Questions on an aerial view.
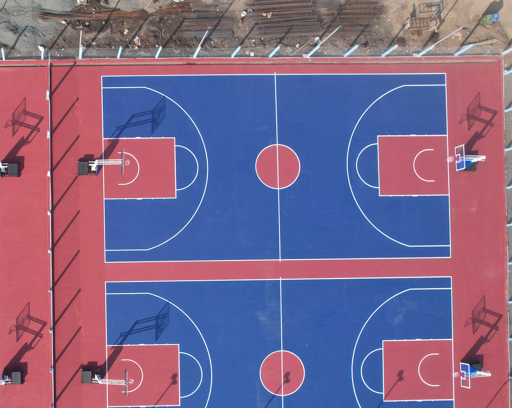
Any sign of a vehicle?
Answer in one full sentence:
No, there appears to be no vehicle in this shot.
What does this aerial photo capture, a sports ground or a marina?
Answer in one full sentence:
What you see here is a sports ground.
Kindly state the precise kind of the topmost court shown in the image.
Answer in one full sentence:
It looks like the topmost court is a basketball court.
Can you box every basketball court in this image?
[102,74,451,262]
[106,277,454,408]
